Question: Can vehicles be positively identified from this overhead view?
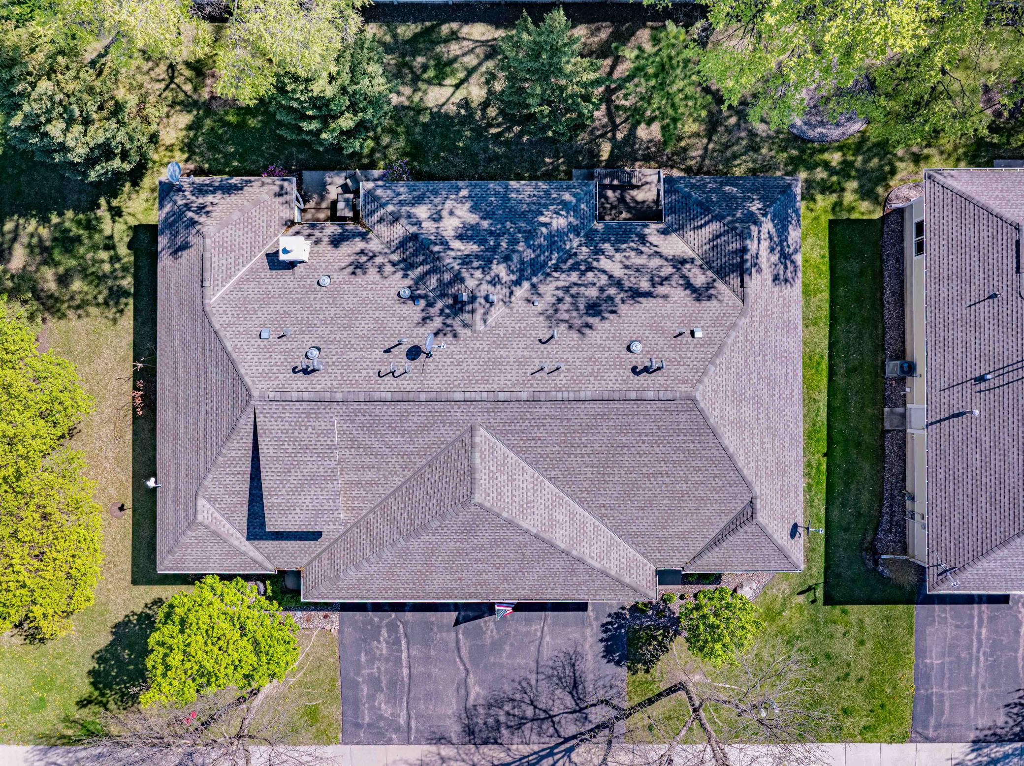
No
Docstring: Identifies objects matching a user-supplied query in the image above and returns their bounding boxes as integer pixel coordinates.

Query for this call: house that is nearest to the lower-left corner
[155,174,804,605]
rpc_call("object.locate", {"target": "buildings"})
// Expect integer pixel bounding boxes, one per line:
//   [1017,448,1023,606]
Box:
[155,174,804,605]
[880,170,1024,596]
